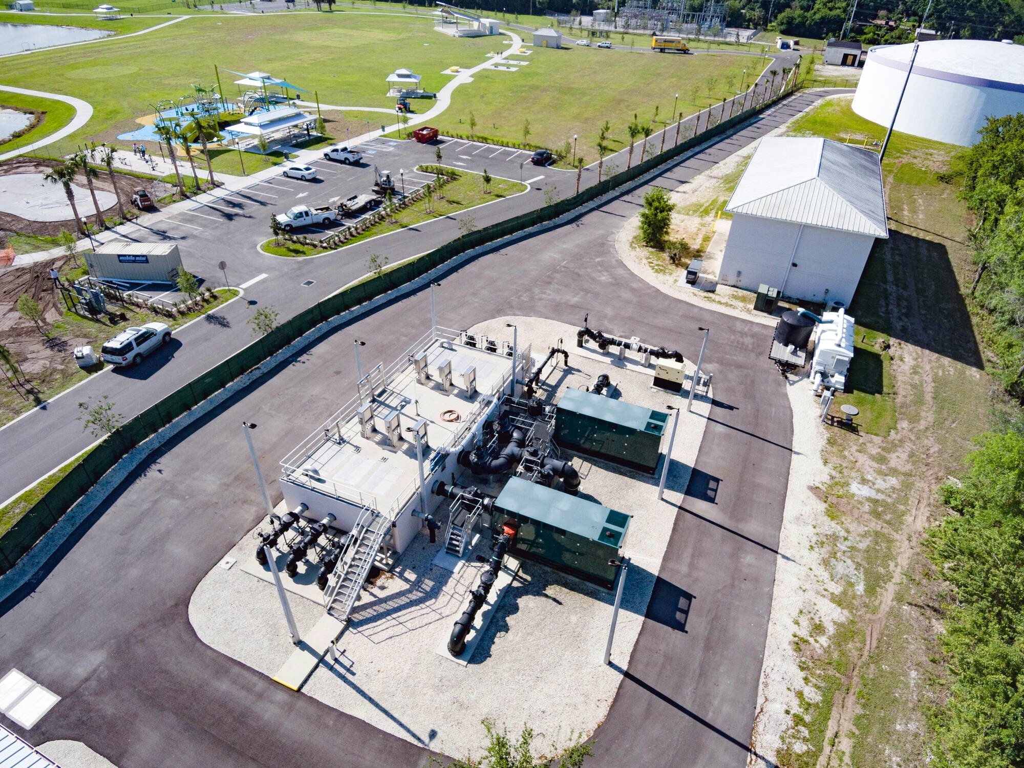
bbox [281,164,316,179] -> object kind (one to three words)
car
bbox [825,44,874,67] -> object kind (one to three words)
shed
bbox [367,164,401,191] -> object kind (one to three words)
work vehicle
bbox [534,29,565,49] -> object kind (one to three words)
building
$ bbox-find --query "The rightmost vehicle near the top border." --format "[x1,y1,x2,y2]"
[655,35,692,54]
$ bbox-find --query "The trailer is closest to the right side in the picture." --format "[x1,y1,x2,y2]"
[768,325,812,380]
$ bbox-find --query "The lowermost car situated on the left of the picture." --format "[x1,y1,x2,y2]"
[103,323,178,363]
